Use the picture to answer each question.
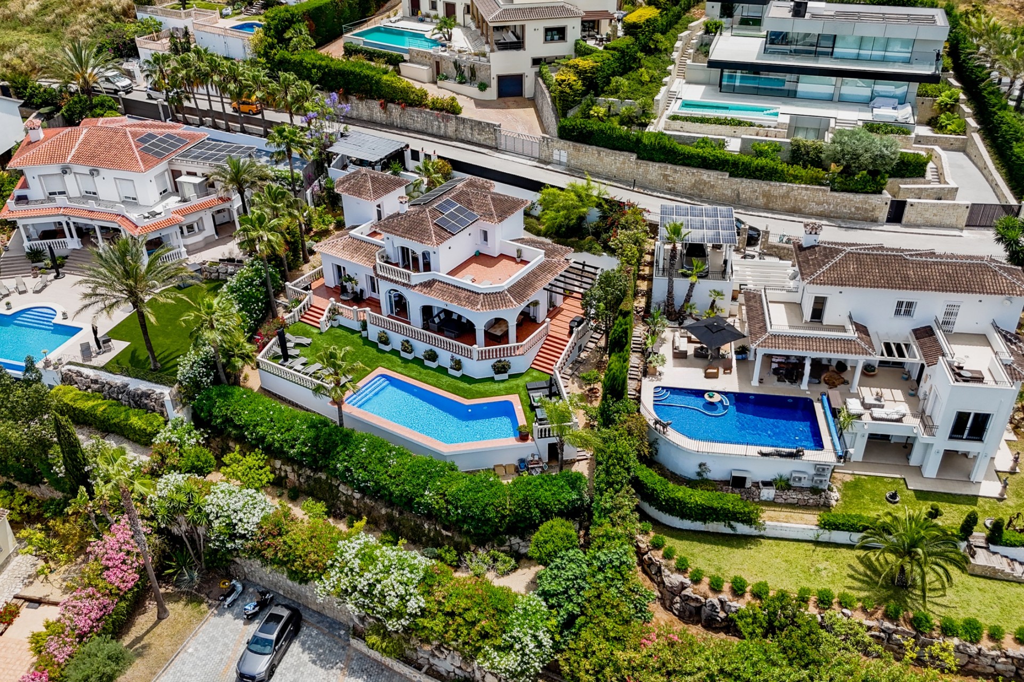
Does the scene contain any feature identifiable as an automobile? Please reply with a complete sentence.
Yes, I can see an automobile in this picture.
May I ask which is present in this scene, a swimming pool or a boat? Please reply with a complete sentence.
This aerial view contains a swimming pool.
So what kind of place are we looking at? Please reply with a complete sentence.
The picture captures a residential area.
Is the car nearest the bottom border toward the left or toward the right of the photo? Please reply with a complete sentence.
The car nearest the bottom border sits on the left side.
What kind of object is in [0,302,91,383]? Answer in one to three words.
swimming pool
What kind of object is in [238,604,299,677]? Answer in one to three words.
car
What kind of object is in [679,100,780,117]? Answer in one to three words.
swimming pool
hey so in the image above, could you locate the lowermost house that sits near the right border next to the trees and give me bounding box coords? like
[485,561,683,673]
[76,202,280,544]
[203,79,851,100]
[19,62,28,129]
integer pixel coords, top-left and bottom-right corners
[746,220,1024,482]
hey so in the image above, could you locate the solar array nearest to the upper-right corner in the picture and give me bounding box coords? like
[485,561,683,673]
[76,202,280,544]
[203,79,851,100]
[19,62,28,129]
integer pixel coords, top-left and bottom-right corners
[659,205,737,244]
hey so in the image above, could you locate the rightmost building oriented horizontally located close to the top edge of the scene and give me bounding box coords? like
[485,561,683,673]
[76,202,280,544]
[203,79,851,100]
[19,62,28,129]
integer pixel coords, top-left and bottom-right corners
[706,0,953,118]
